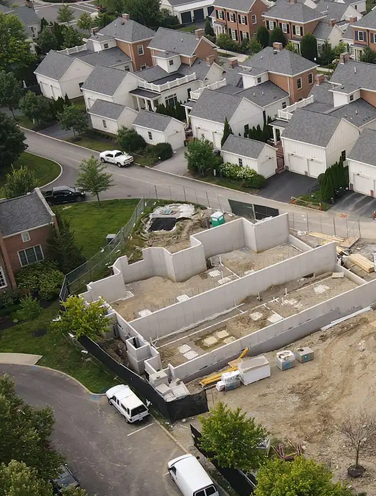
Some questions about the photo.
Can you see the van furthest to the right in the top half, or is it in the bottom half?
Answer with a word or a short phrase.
bottom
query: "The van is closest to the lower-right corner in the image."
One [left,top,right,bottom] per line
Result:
[162,448,227,496]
